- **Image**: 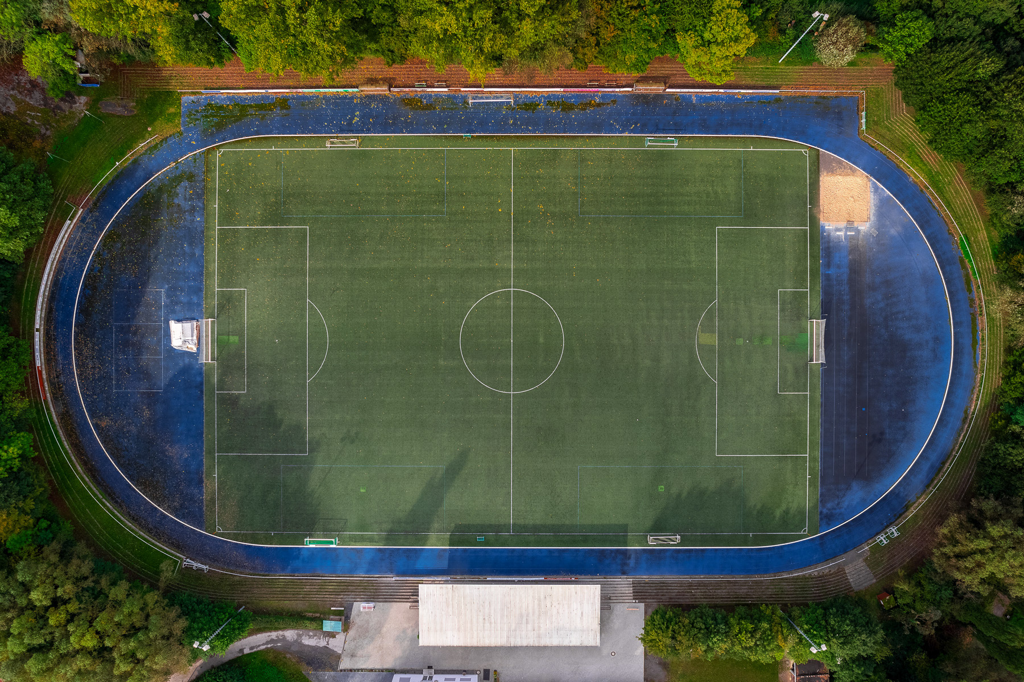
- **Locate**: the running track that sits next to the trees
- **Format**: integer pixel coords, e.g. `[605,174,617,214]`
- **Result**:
[46,94,978,574]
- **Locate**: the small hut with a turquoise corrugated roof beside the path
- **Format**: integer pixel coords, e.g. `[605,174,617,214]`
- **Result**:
[321,613,345,633]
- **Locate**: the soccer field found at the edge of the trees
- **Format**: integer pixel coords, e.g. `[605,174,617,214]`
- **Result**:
[204,136,820,546]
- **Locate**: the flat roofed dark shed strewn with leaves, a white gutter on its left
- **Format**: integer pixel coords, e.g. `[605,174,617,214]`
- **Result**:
[786,652,830,682]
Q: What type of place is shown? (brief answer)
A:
sports ground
